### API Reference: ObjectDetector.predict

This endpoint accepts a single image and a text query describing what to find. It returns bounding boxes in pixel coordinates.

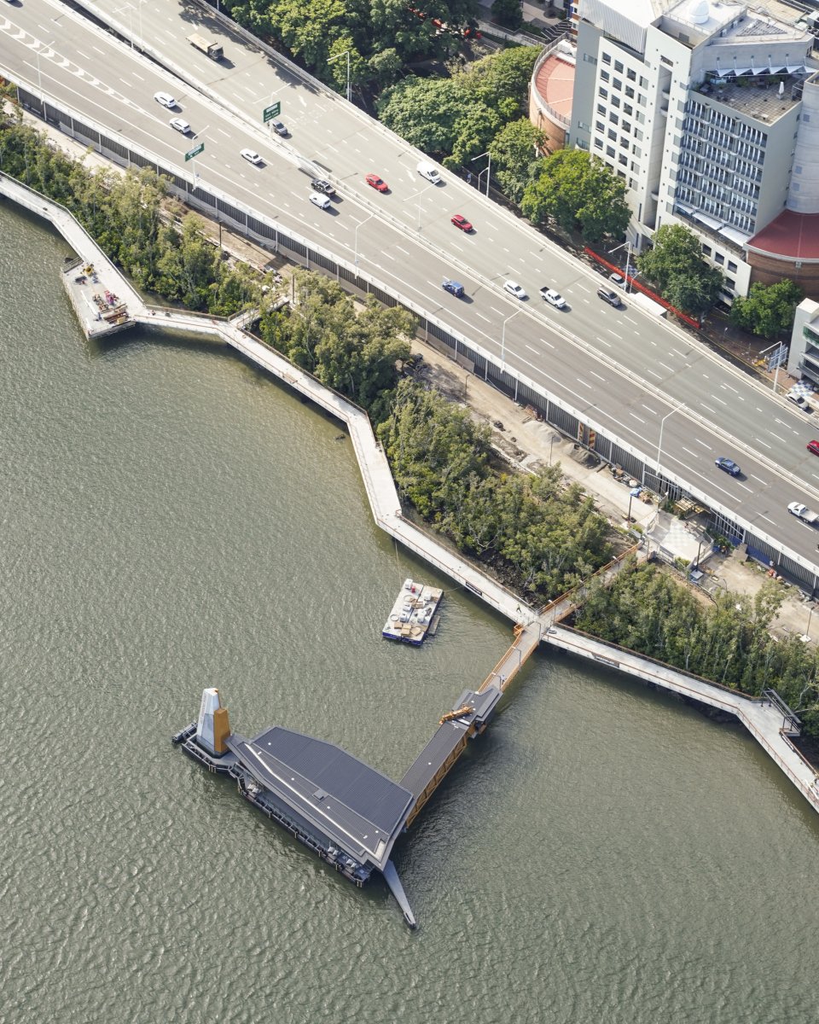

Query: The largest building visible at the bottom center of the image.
[175,685,502,896]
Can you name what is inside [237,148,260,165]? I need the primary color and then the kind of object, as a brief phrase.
white car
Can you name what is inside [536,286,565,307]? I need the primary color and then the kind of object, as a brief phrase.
white truck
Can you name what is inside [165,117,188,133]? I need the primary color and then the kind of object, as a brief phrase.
white car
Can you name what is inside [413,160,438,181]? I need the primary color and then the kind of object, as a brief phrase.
white vehicle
